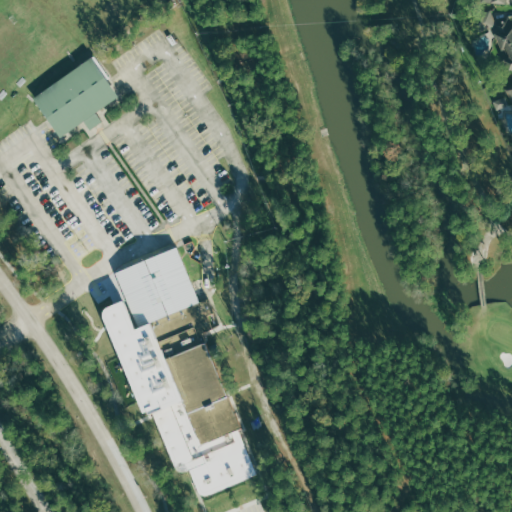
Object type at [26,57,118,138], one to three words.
building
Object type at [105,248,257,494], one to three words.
building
